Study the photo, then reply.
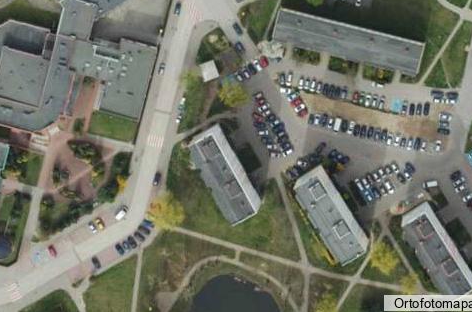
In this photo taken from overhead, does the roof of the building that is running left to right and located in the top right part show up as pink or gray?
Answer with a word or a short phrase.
gray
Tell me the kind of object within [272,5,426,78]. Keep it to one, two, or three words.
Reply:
building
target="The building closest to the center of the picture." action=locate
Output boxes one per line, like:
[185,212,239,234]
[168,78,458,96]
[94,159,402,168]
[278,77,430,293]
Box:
[192,118,264,225]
